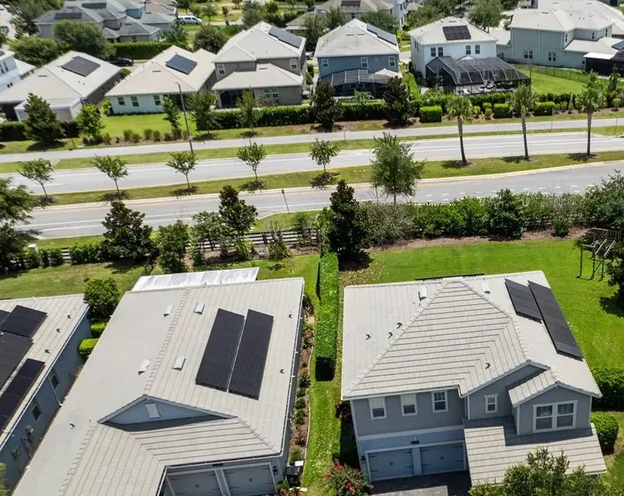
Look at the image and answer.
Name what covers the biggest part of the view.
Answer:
buildings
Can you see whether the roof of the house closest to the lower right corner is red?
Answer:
No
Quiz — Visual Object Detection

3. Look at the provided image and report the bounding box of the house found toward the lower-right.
[340,267,610,496]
